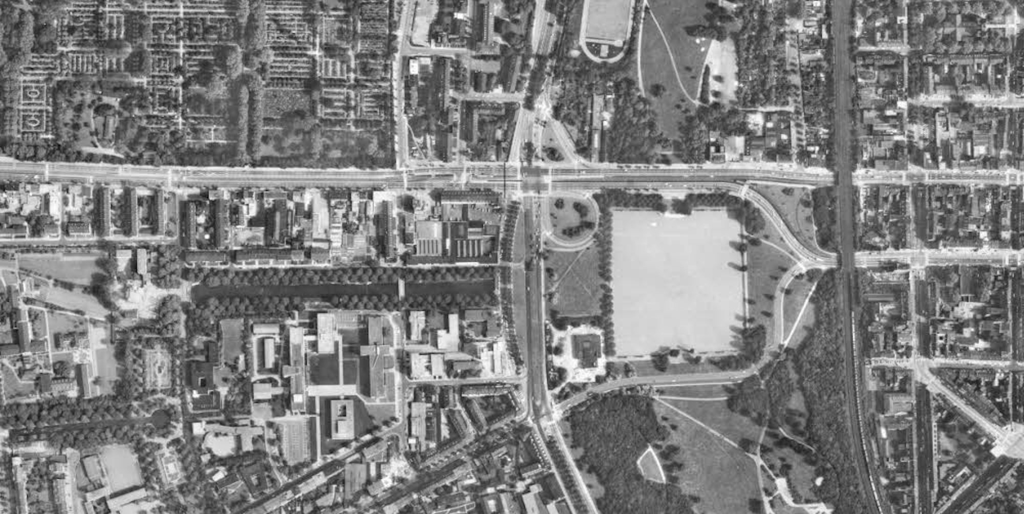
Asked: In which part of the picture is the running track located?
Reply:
top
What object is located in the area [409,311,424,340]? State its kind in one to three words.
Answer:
house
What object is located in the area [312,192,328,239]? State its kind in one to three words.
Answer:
building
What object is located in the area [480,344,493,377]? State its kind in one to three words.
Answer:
building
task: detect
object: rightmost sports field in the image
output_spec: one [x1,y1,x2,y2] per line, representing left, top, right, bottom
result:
[613,207,743,355]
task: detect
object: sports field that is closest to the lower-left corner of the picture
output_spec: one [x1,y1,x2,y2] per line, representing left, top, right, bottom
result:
[92,313,117,398]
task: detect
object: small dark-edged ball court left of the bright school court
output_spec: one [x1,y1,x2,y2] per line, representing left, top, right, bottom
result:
[81,453,106,483]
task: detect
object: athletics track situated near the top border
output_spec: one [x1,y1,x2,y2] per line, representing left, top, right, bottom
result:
[580,0,632,63]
